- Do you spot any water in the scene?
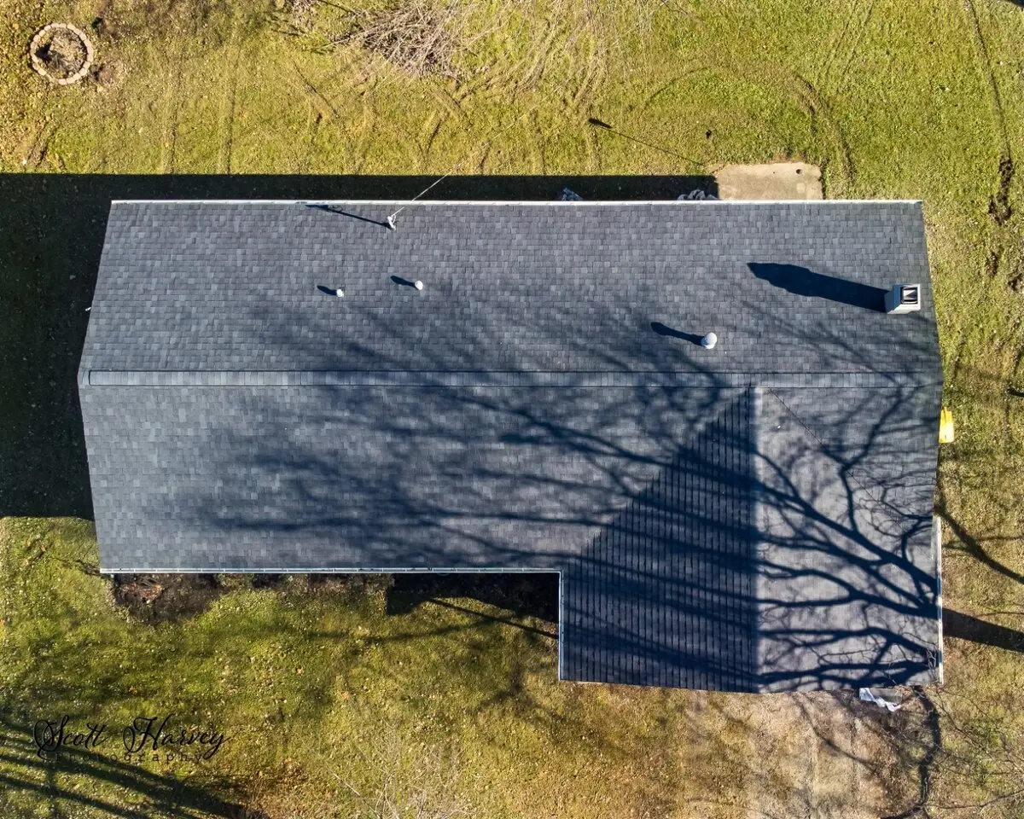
No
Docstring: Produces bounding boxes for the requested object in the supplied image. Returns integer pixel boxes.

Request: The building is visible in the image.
[78,198,942,693]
